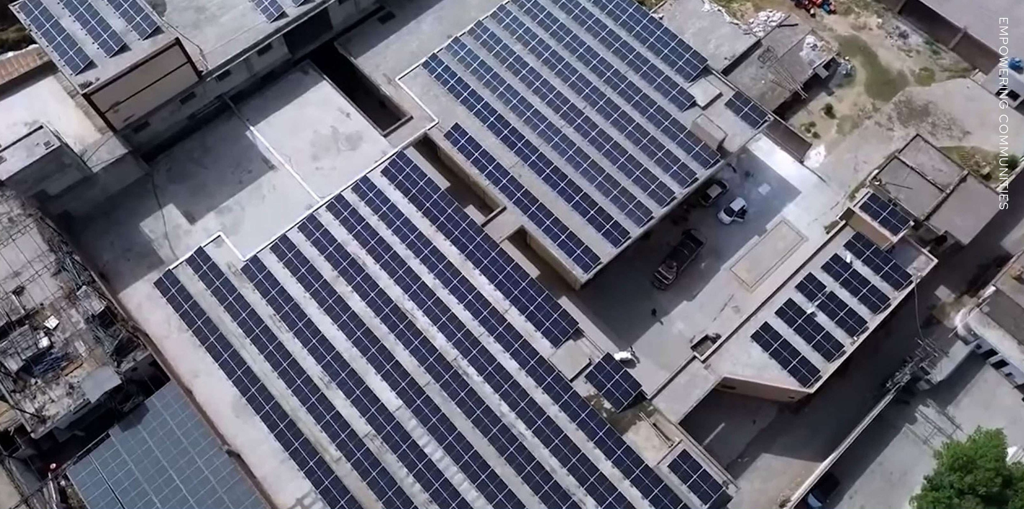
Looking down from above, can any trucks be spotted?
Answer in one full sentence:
Yes, a truck appears in the view.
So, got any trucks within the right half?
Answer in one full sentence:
Yes, the scene does show a truck within the right half.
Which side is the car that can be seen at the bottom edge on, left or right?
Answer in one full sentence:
It is on the right.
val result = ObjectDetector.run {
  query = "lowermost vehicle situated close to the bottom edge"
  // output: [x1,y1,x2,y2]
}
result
[802,473,843,509]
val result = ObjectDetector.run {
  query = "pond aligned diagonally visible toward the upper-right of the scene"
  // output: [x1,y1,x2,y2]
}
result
[840,35,906,97]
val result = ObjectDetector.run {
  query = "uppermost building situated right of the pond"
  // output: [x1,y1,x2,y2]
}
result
[900,0,1024,78]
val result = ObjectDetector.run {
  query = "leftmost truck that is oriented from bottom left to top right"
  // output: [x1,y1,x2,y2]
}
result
[644,226,710,297]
